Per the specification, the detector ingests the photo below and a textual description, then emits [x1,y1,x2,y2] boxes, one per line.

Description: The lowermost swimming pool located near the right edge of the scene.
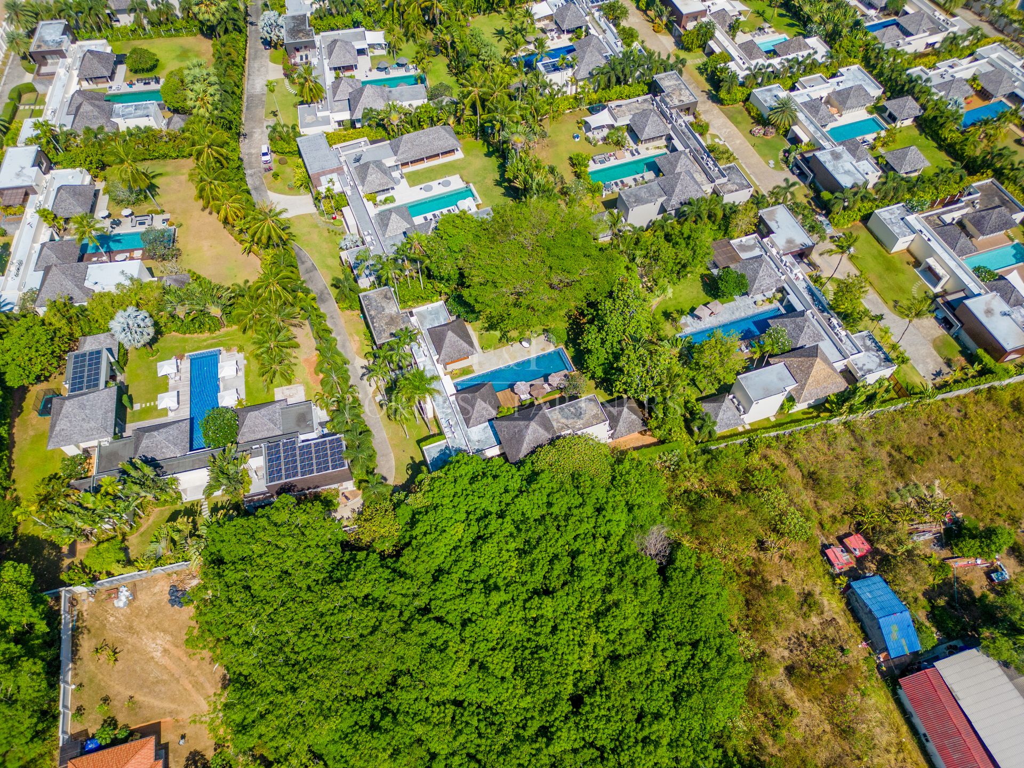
[962,240,1024,274]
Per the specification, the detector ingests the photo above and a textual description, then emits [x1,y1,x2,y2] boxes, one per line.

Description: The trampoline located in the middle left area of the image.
[29,387,65,421]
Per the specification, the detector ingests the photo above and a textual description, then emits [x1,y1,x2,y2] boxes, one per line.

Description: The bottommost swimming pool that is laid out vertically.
[187,347,226,452]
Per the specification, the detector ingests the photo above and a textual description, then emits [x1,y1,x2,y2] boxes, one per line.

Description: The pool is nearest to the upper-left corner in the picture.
[107,89,164,104]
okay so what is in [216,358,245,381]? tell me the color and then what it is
white umbrella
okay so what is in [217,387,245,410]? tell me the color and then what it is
white umbrella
